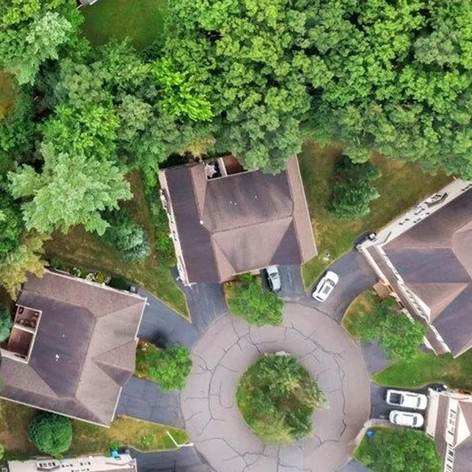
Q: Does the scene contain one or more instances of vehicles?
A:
Yes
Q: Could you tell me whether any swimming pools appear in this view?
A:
No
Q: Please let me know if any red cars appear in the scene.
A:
No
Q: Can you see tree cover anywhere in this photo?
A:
Yes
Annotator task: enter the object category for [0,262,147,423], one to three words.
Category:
house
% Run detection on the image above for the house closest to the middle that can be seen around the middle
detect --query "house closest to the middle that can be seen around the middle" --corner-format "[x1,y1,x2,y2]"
[157,152,317,286]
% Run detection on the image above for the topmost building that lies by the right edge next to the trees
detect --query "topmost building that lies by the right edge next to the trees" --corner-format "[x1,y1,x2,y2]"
[359,178,472,357]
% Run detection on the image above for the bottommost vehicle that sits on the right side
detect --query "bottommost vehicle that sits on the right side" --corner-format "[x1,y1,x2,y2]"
[390,411,426,431]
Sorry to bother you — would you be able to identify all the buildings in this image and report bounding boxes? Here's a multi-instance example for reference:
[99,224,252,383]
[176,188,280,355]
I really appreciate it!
[359,178,472,357]
[157,152,317,286]
[420,388,472,472]
[0,262,147,423]
[8,454,137,472]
